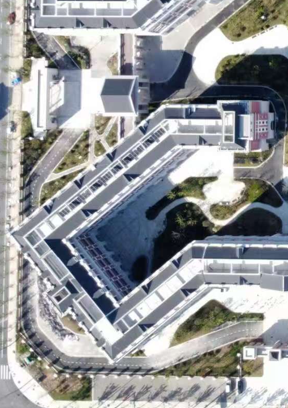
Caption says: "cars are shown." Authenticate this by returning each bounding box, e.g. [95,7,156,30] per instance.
[225,380,231,394]
[5,121,11,134]
[7,11,14,24]
[236,380,243,393]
